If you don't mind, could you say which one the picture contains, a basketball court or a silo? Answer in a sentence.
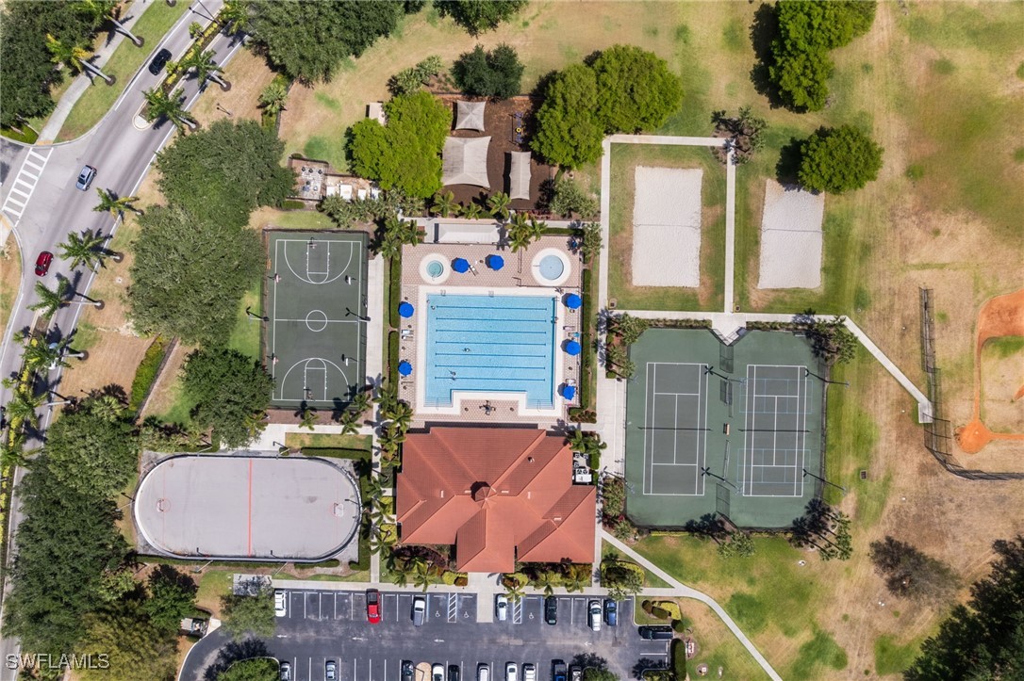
Of the two, only a basketball court appears.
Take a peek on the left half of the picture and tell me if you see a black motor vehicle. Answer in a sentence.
Yes, a black motor vehicle is visible on the left half of the picture.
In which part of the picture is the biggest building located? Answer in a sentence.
You can find the biggest building in the bottom area of the picture.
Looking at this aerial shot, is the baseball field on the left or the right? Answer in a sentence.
You can find the baseball field on the right side of the picture.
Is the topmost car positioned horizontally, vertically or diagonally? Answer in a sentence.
The topmost car is oriented diagonally.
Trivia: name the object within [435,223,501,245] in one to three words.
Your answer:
building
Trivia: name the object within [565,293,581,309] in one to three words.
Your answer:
umbrella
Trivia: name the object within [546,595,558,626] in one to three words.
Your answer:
vehicle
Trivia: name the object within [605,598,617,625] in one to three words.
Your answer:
vehicle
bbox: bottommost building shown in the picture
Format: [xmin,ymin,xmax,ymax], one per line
[396,427,596,574]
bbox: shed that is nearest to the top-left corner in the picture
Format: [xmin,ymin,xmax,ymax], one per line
[370,103,387,127]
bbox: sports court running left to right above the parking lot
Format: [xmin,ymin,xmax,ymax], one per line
[130,453,360,564]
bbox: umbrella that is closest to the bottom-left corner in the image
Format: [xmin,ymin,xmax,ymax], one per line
[398,361,412,375]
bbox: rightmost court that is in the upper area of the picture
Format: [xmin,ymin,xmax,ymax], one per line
[758,179,829,289]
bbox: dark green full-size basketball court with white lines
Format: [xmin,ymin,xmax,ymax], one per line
[267,231,368,409]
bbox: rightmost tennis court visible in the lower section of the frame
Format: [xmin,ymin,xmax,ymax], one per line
[723,331,824,528]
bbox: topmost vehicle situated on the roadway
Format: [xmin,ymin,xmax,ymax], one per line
[149,48,172,75]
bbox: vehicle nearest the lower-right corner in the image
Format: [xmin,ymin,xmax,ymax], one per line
[637,626,671,641]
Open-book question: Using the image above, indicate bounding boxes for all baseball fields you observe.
[957,287,1024,453]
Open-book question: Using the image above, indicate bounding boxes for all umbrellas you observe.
[398,361,412,375]
[565,293,581,309]
[489,254,504,270]
[454,257,470,273]
[560,385,576,401]
[565,340,581,356]
[399,303,413,317]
